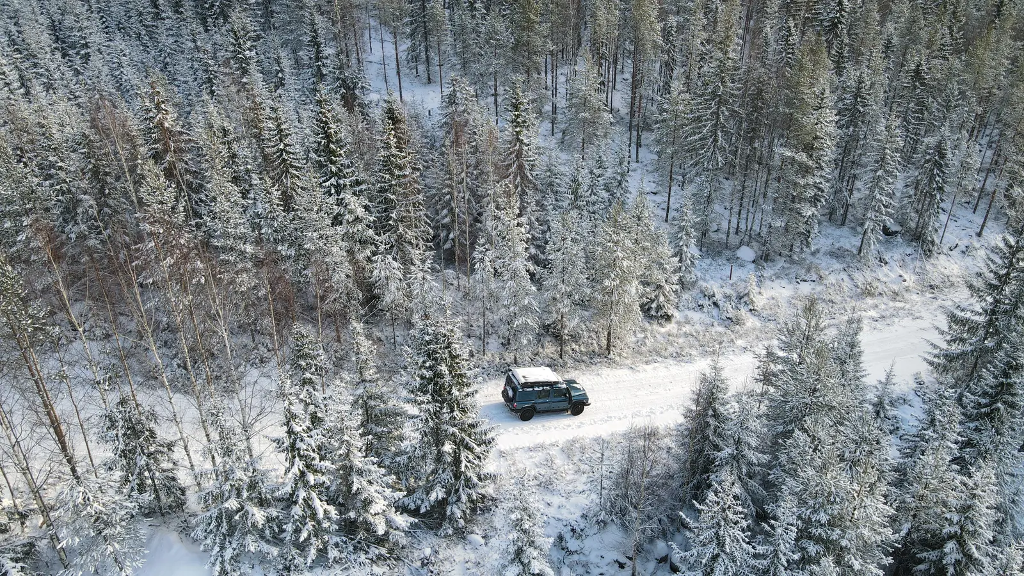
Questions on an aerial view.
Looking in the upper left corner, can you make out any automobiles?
No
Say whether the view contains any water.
No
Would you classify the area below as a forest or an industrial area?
forest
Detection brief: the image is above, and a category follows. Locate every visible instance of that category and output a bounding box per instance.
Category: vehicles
[503,368,594,422]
